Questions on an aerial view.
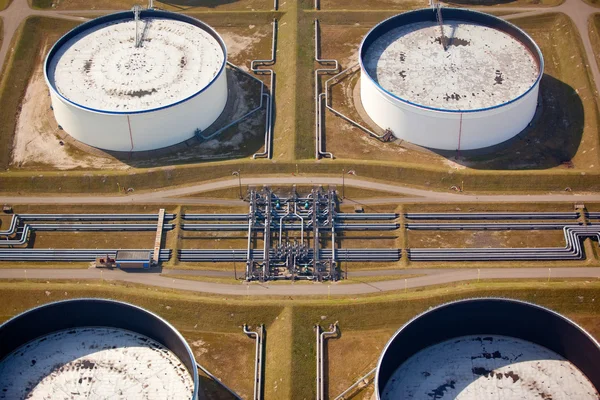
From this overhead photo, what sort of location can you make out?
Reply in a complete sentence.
The area seen from above is an industrial area.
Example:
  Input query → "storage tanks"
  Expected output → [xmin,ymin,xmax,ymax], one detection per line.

[43,0,236,156]
[367,295,600,400]
[352,0,546,155]
[0,296,210,400]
